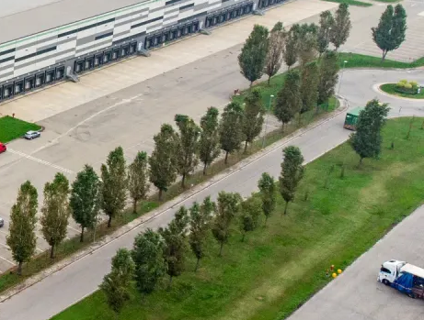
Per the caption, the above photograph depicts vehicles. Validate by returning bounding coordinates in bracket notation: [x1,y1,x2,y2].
[376,266,424,296]
[24,128,43,139]
[0,216,7,227]
[344,107,361,127]
[0,141,9,153]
